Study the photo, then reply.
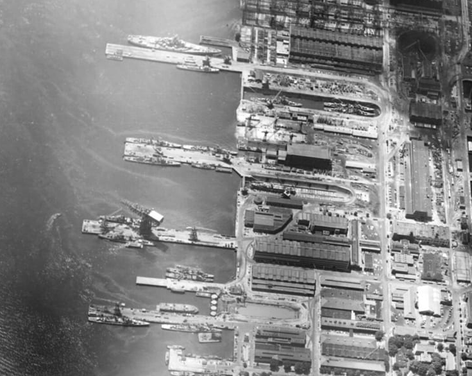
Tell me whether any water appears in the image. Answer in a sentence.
Yes, some water is visible.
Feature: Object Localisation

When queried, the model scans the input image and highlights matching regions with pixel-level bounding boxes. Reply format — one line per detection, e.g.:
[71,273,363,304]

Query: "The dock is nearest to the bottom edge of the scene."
[169,348,238,374]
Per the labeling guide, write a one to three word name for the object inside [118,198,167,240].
crane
